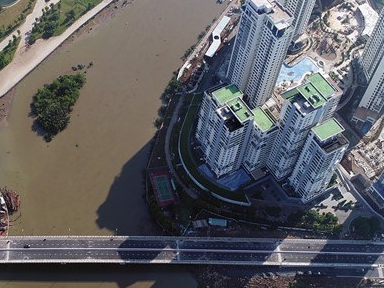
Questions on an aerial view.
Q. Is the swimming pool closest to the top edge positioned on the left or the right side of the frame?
right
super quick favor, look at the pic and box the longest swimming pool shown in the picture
[273,55,321,91]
